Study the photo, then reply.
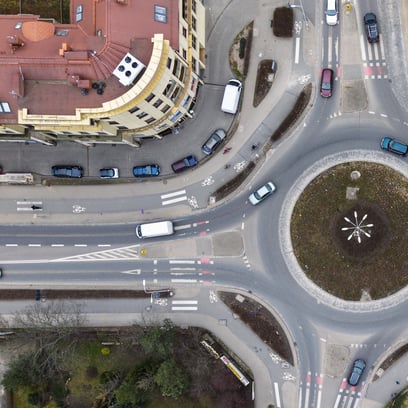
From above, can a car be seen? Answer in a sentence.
Yes, the image includes a car.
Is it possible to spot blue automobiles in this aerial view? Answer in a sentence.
Yes, the photo shows a blue automobile.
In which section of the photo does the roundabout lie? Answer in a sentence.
The roundabout is located in the right region of the scene.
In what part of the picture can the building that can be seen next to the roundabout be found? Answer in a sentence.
The building that can be seen next to the roundabout is located in the top left region of the scene.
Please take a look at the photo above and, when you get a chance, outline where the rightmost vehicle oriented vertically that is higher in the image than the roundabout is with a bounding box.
[363,11,379,41]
